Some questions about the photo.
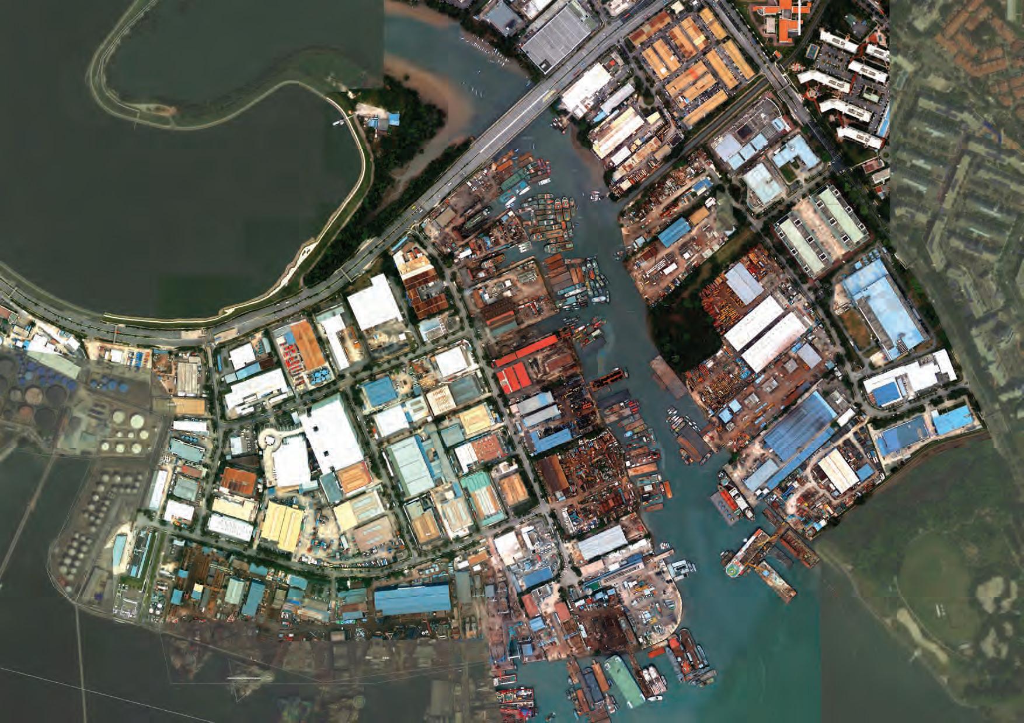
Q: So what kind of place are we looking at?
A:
port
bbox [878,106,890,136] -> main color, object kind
blue swimming pool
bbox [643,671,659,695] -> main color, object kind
white ship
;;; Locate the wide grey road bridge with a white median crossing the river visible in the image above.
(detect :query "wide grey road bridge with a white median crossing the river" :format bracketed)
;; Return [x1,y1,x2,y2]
[468,76,559,165]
